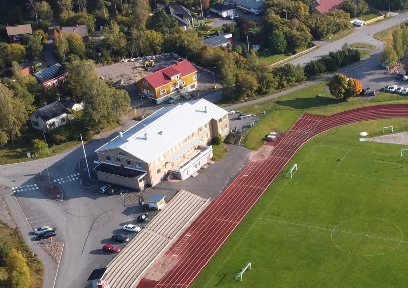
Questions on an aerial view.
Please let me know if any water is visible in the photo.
No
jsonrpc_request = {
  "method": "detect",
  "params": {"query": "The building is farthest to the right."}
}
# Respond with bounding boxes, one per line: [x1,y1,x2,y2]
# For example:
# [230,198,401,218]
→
[307,0,344,17]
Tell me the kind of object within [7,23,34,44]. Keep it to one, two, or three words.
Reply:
house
